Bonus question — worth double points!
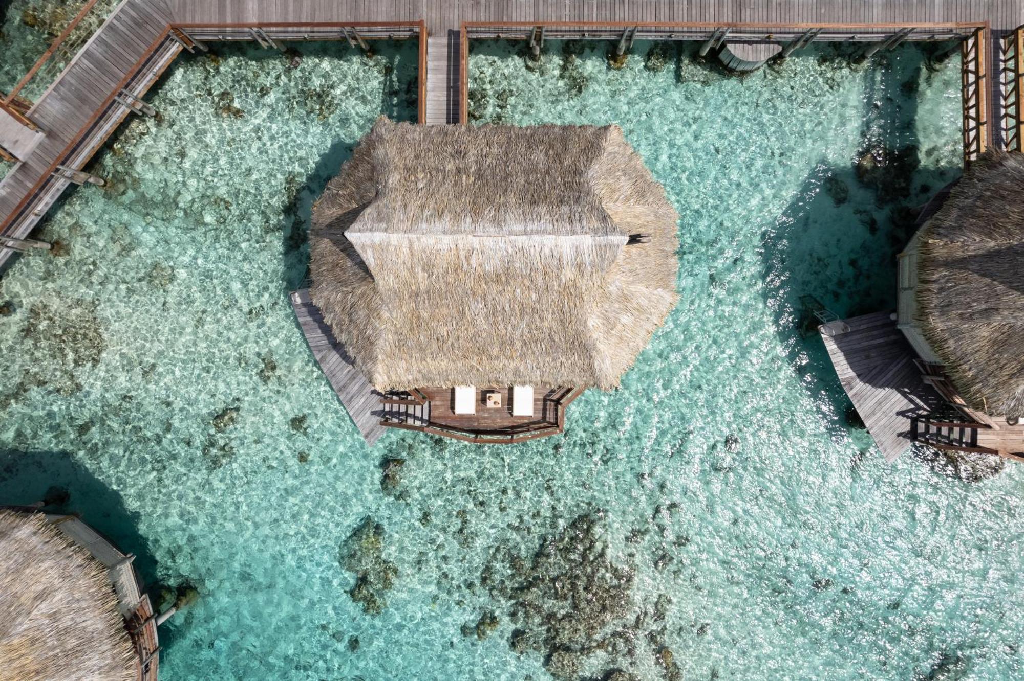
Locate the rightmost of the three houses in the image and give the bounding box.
[812,149,1024,470]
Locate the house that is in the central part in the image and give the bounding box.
[292,118,680,444]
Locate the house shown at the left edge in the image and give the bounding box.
[0,505,164,681]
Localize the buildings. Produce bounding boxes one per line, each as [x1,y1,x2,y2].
[292,118,680,444]
[0,505,164,681]
[812,149,1024,470]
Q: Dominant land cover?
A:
water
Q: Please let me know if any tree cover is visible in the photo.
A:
No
